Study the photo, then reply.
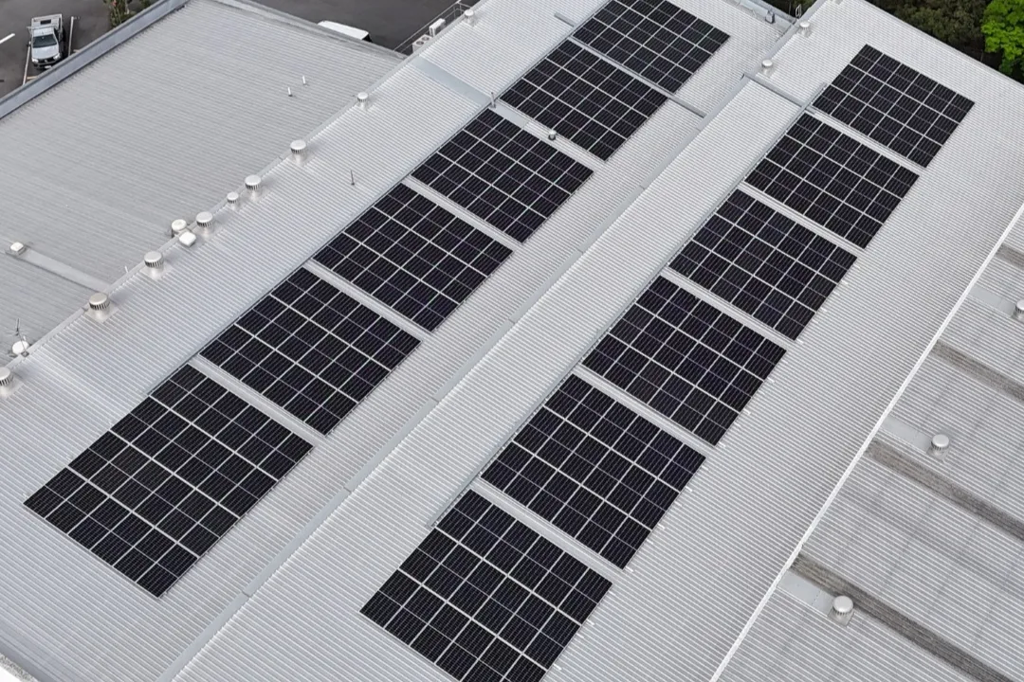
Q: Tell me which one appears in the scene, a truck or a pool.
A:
truck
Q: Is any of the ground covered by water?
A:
No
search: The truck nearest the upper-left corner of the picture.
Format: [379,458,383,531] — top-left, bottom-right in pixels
[27,11,66,68]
